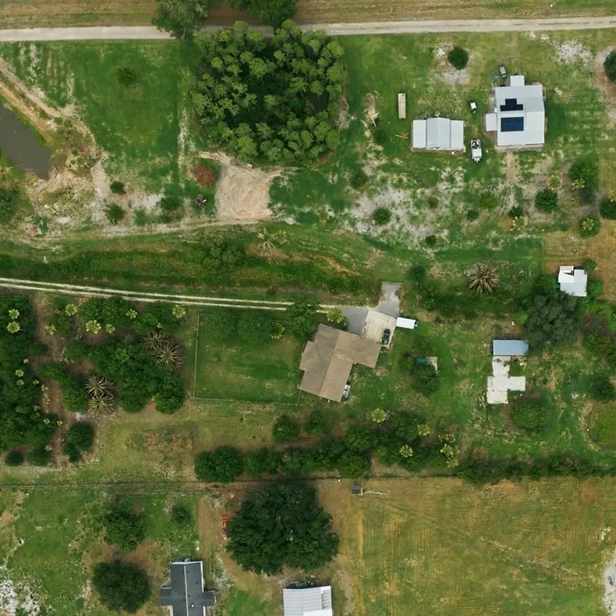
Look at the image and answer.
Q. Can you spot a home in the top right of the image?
Yes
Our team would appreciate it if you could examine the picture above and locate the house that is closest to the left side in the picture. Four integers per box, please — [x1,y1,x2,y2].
[160,558,216,616]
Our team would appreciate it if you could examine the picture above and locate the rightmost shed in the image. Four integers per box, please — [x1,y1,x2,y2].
[558,266,587,296]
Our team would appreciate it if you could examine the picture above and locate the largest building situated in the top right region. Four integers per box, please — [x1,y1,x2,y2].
[485,75,544,152]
